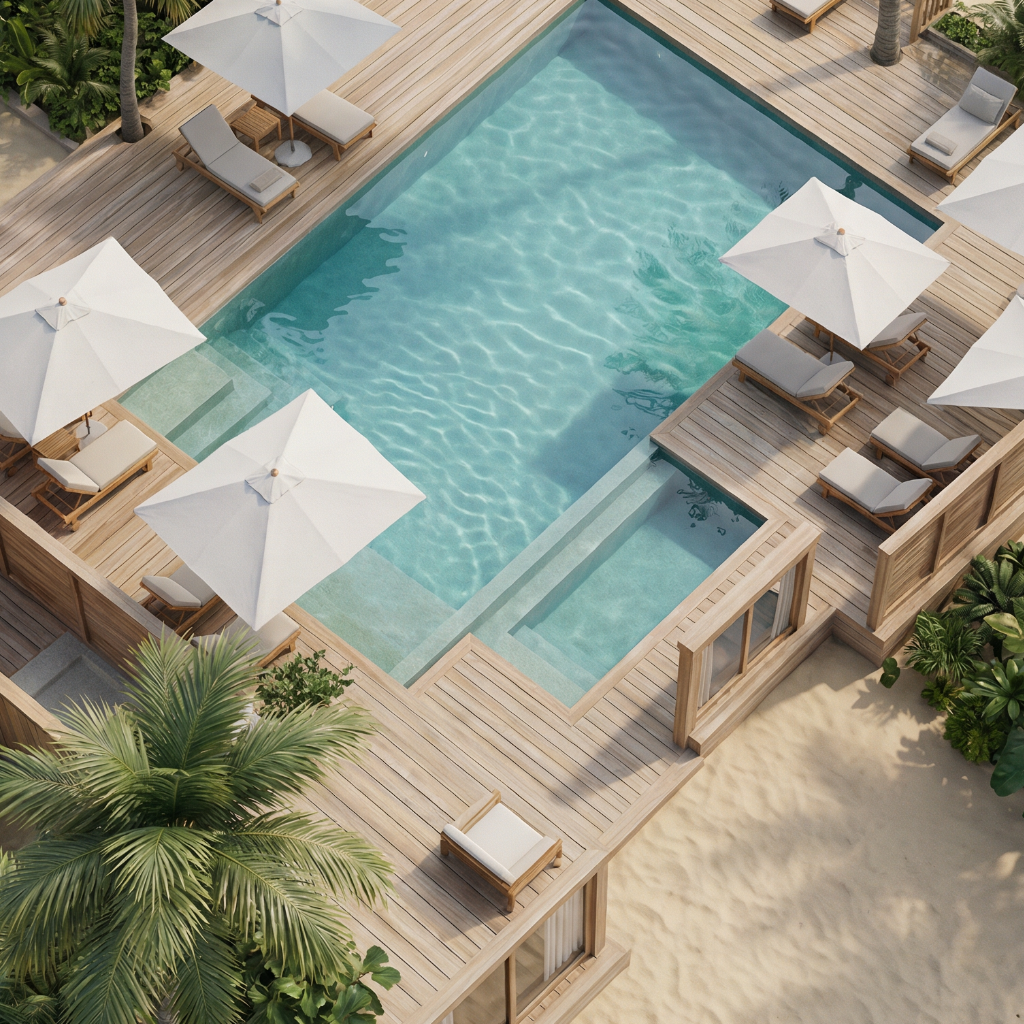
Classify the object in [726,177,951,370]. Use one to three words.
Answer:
umbrella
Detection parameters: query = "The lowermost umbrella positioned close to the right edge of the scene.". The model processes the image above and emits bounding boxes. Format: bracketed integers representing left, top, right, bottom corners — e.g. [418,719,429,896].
[926,297,1024,445]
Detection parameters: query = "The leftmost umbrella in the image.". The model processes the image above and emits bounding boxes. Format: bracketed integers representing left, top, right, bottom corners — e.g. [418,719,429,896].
[0,236,207,448]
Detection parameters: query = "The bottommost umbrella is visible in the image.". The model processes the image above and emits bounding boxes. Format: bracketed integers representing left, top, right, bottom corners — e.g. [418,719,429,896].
[136,389,427,626]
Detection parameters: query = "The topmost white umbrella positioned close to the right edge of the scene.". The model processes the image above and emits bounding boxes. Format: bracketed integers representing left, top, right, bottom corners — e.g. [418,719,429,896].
[931,124,1024,266]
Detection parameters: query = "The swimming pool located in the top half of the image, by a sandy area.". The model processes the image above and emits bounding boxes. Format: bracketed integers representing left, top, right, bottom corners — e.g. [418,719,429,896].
[113,0,942,524]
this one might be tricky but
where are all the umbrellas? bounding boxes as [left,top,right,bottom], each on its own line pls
[0,236,207,448]
[726,177,951,370]
[931,124,1024,266]
[164,0,399,169]
[926,297,1024,445]
[136,389,427,626]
